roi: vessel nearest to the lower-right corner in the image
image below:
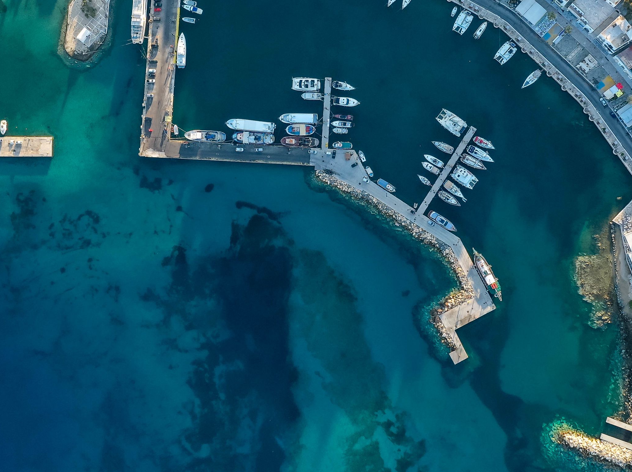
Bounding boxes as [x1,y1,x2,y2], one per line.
[473,250,503,300]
